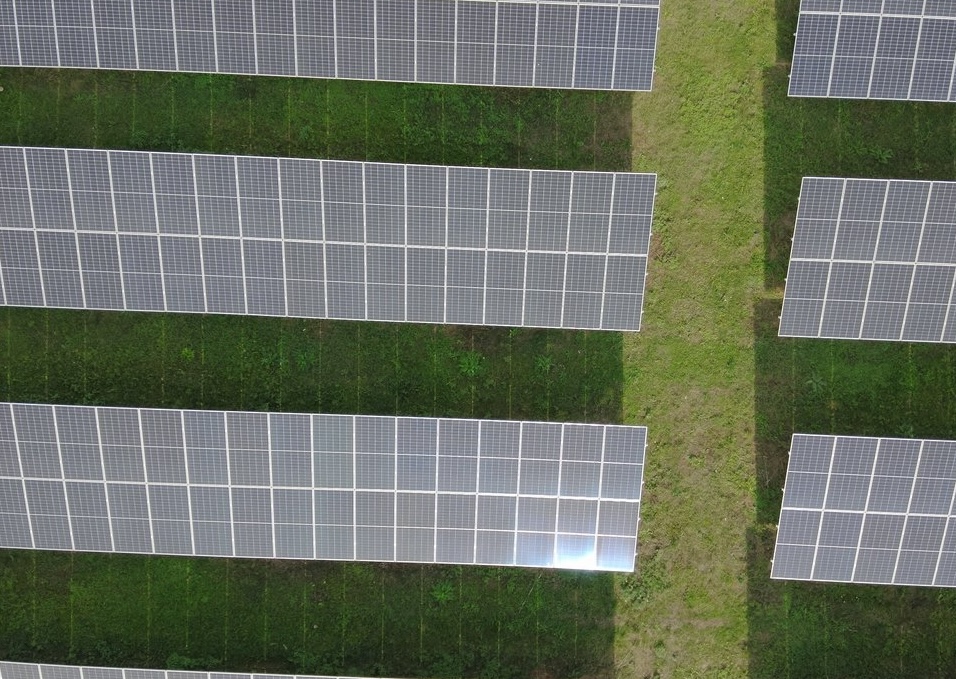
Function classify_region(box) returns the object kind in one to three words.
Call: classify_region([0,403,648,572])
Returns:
solar array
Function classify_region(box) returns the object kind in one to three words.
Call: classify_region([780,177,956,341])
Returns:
solar array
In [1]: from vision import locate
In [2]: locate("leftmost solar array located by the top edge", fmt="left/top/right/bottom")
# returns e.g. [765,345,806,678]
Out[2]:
[0,0,660,90]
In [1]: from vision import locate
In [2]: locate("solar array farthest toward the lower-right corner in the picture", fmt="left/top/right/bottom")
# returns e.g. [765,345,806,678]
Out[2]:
[770,434,956,586]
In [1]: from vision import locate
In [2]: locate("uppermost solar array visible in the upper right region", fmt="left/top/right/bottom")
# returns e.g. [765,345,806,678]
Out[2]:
[788,0,956,101]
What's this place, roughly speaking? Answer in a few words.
solar farm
